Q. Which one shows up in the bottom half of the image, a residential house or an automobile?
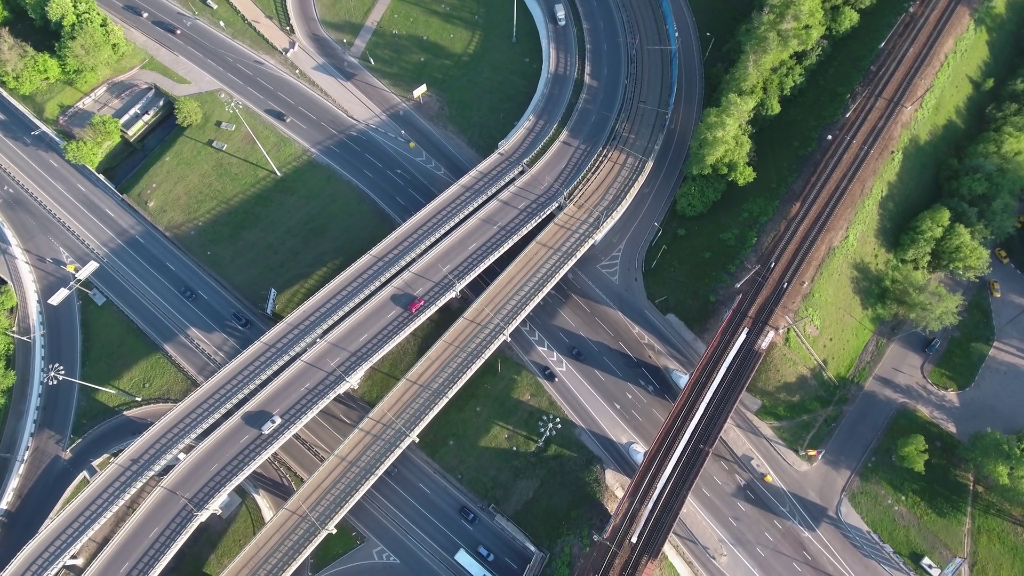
automobile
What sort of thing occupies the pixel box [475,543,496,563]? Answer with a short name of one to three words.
car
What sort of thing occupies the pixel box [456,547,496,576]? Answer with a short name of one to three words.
bus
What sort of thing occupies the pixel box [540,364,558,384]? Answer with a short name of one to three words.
car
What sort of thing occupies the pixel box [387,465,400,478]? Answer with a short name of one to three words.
vehicle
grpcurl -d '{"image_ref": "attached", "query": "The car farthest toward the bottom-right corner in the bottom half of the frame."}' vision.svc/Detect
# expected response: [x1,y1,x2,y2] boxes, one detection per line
[923,336,941,356]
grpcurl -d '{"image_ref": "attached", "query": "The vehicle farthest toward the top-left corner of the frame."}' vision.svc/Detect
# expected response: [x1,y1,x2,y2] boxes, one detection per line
[129,5,147,18]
